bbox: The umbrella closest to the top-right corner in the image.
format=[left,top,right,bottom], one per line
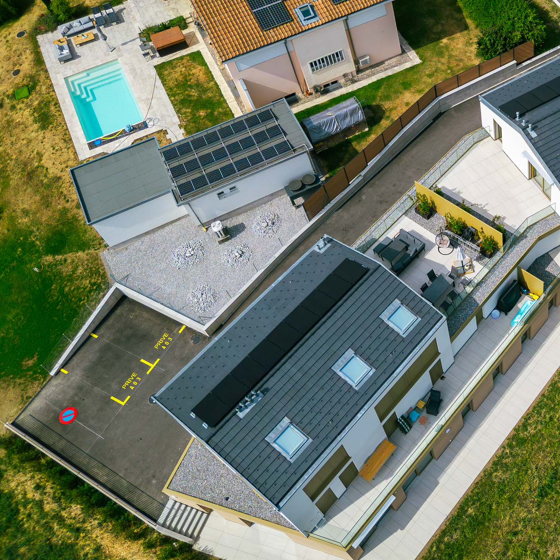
[452,245,477,278]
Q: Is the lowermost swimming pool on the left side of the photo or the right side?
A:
left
